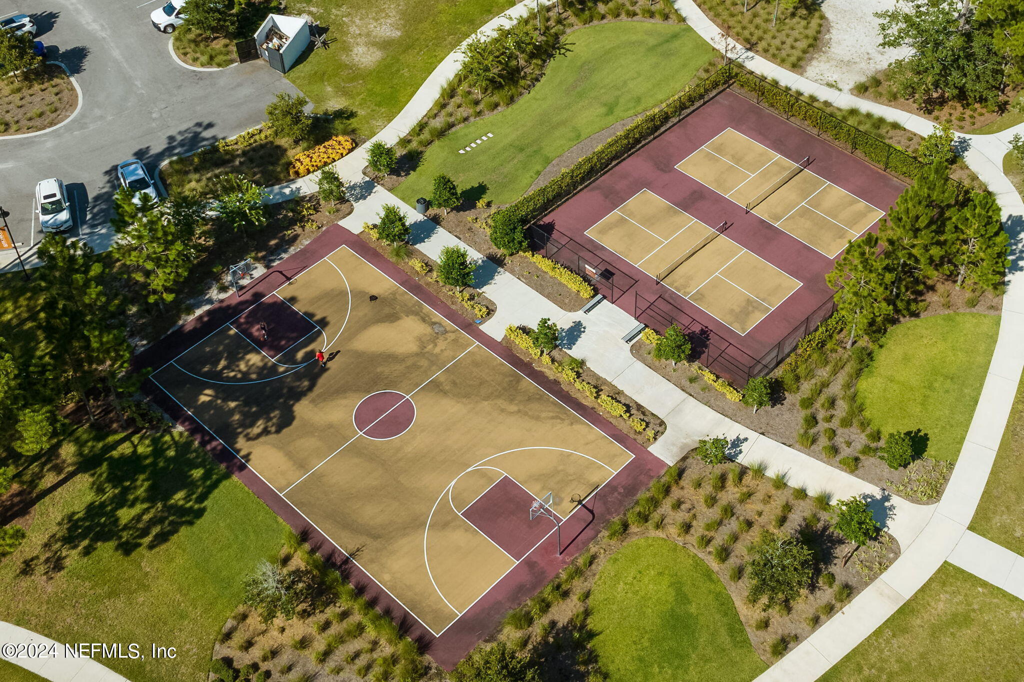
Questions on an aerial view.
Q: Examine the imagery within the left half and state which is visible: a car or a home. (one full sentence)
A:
The one visible within the left half is a car.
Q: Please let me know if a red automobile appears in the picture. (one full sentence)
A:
No, the picture doesn't show any red automobile.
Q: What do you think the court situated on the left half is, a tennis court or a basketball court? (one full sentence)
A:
The court situated on the left half can be classified as a basketball court.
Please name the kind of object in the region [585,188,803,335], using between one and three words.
sports court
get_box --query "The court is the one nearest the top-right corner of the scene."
[675,127,885,258]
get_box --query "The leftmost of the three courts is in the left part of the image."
[128,223,671,671]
